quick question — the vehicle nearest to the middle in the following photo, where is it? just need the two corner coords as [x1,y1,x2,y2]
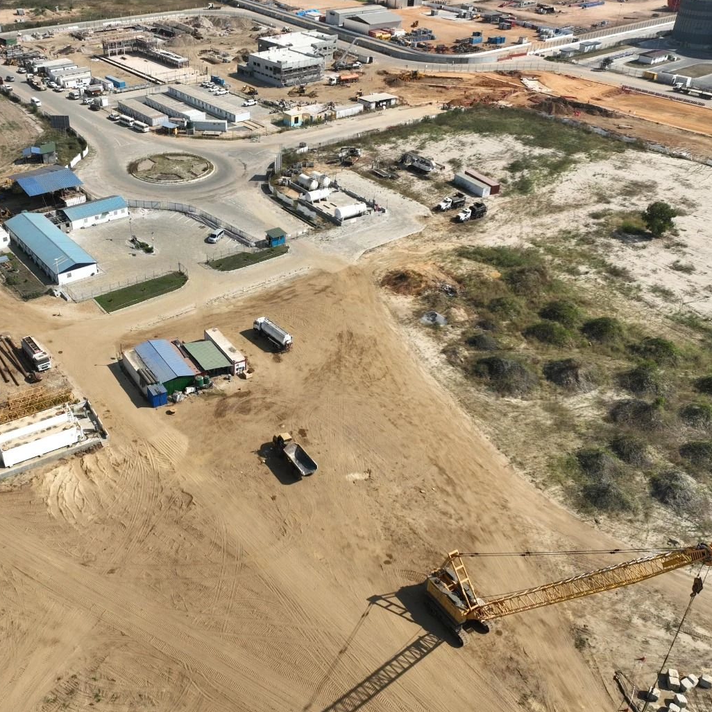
[254,311,302,348]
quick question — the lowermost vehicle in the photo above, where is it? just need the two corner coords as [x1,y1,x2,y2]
[276,430,322,477]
